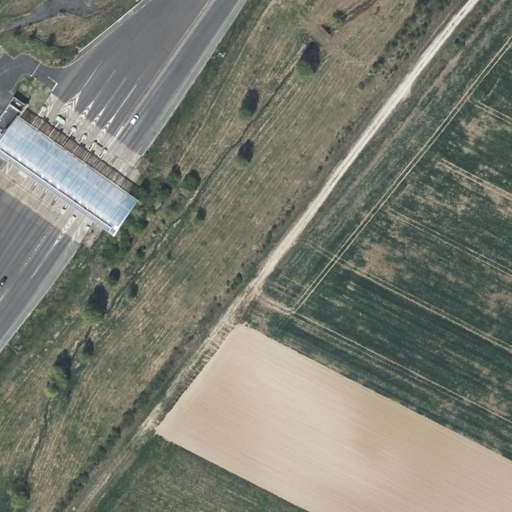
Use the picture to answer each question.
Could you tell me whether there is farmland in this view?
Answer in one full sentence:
Yes, there is farmland in the image.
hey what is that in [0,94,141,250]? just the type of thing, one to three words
toll station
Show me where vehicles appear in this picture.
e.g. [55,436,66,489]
[130,114,140,125]
[0,276,8,286]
